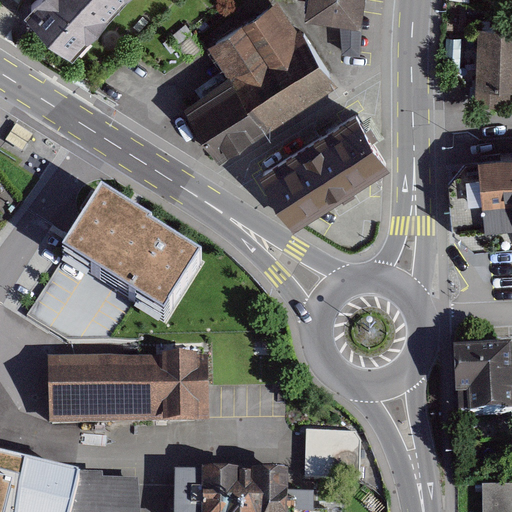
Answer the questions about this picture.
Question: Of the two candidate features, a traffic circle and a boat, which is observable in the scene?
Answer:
traffic circle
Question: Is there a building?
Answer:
Yes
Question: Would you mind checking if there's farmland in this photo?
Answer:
No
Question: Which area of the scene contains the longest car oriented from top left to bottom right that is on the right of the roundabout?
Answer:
right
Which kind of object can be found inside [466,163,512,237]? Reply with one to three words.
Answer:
house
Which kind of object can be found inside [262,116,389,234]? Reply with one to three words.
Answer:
building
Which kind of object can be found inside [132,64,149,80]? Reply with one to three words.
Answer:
car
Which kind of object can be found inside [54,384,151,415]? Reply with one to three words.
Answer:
solar array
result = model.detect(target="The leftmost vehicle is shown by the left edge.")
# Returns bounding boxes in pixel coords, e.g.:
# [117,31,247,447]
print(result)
[15,284,36,296]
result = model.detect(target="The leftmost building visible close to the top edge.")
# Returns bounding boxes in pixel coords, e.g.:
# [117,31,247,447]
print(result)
[24,0,134,62]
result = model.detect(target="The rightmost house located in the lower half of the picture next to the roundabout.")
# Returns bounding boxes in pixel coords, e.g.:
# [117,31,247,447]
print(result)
[454,339,512,418]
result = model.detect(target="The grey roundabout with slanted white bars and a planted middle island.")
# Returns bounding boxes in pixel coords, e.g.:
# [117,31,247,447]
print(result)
[302,262,439,400]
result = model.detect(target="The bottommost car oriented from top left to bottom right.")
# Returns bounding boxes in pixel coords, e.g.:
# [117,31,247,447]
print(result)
[294,301,313,324]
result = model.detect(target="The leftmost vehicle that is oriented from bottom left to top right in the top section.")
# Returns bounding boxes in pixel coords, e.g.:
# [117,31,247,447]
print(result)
[262,152,284,169]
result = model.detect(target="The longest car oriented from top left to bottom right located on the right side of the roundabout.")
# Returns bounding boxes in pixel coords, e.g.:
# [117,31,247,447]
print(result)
[447,247,467,270]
